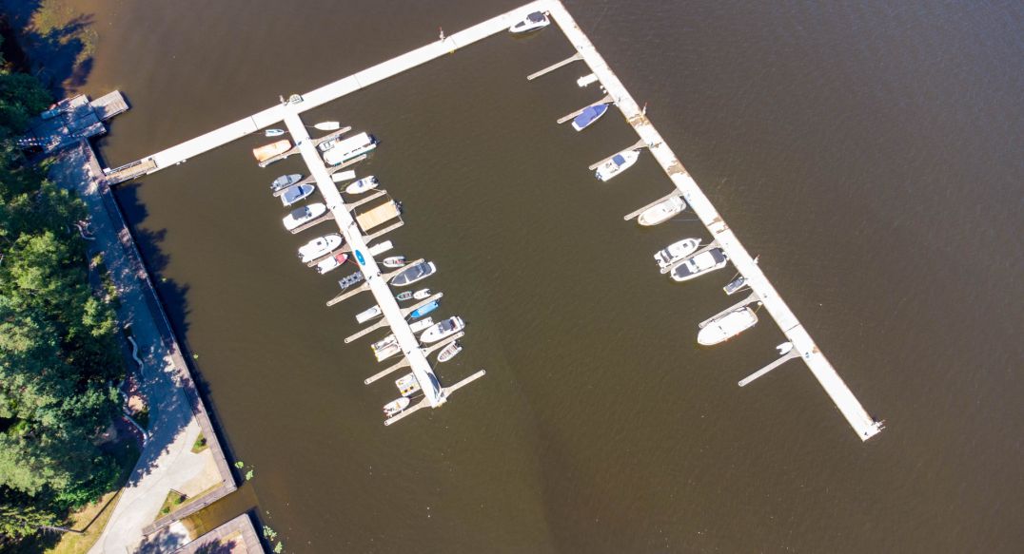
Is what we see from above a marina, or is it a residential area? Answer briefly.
marina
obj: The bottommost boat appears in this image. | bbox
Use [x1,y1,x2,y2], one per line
[383,394,422,415]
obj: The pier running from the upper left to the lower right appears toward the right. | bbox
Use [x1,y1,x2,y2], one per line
[541,0,881,443]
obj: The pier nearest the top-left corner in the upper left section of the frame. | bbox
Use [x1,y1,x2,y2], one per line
[91,89,129,118]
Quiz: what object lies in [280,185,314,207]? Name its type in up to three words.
boat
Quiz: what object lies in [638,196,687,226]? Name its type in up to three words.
boat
